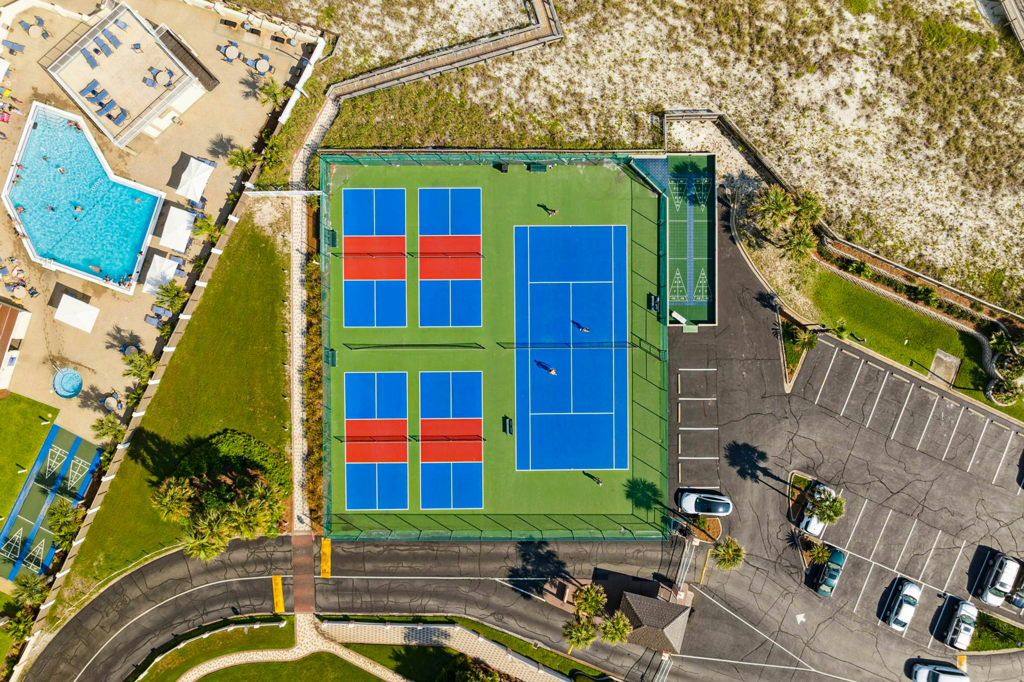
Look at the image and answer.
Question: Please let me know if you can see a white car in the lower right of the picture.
Yes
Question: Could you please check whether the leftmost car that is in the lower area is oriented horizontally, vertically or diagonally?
horizontally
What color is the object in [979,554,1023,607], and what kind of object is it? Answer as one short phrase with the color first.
white car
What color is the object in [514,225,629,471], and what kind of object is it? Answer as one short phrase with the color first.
blue tennis court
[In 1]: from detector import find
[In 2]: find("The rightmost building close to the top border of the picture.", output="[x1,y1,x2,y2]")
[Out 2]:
[49,3,206,156]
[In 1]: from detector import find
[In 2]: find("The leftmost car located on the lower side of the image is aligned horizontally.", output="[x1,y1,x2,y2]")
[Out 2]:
[680,492,732,517]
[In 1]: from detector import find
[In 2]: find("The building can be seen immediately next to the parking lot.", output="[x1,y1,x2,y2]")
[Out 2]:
[615,590,691,655]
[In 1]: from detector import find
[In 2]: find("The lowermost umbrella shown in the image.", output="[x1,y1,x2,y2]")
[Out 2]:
[54,294,100,333]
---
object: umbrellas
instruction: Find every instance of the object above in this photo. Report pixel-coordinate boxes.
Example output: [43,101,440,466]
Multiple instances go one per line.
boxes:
[159,206,196,253]
[0,60,13,85]
[176,157,214,203]
[54,294,100,333]
[142,255,179,295]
